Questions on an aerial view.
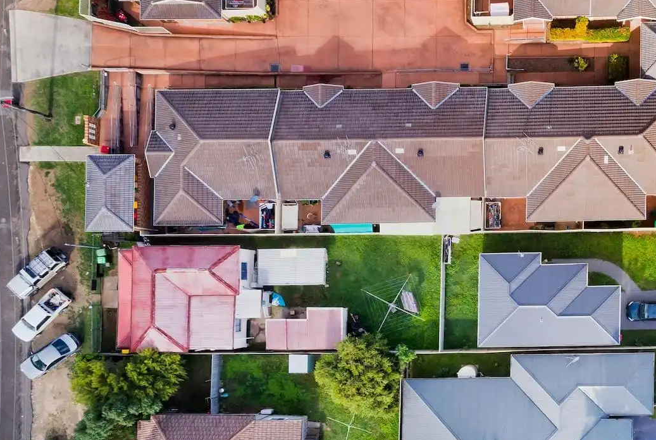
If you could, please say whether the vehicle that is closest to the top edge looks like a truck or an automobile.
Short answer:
automobile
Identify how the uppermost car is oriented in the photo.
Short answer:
at an angle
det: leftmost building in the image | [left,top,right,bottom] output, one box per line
[83,153,142,233]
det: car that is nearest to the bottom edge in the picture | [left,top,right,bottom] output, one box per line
[23,333,81,379]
